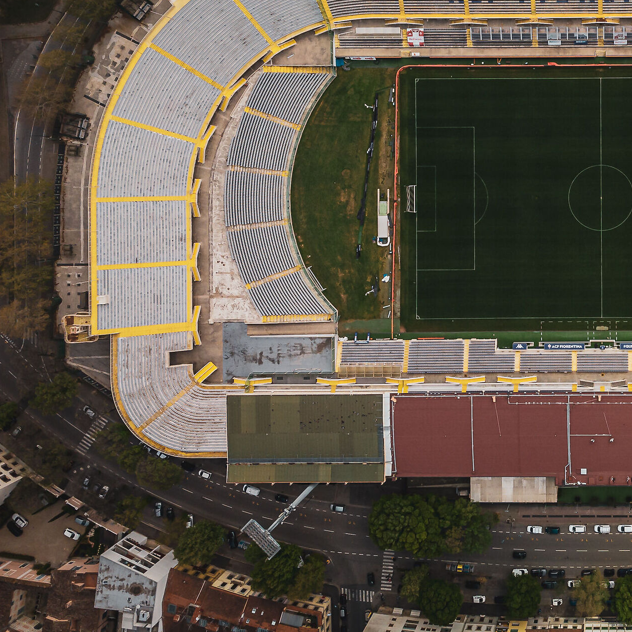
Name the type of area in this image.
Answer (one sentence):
The area seen from above is a sports ground.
